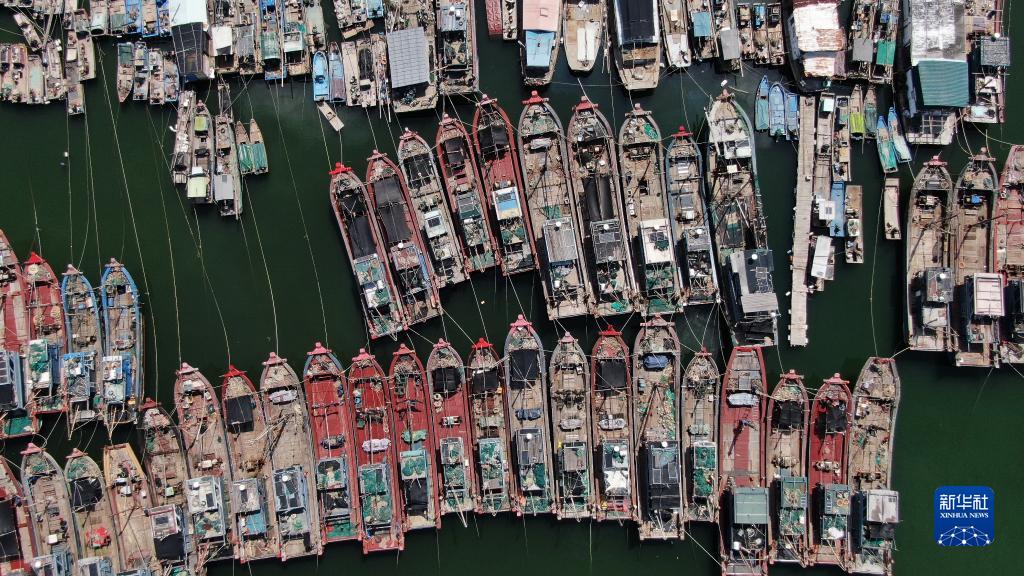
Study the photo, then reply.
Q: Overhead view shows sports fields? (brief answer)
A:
No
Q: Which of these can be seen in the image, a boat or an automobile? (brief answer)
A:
boat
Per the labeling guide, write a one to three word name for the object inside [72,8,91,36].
boat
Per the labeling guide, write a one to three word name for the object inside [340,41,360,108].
boat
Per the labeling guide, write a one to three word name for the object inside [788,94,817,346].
pier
